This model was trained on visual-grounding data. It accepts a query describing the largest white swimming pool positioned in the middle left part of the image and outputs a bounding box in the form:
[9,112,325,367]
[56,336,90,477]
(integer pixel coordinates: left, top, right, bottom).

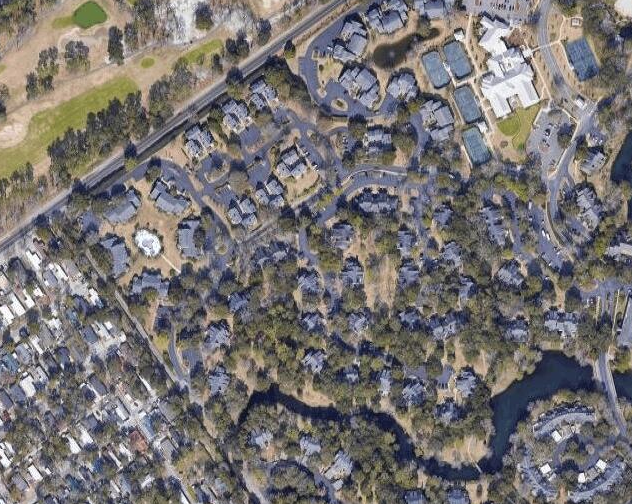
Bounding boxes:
[134,229,161,257]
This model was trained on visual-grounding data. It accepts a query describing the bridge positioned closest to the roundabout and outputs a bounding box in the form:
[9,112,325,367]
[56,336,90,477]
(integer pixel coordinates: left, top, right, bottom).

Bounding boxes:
[597,351,621,402]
